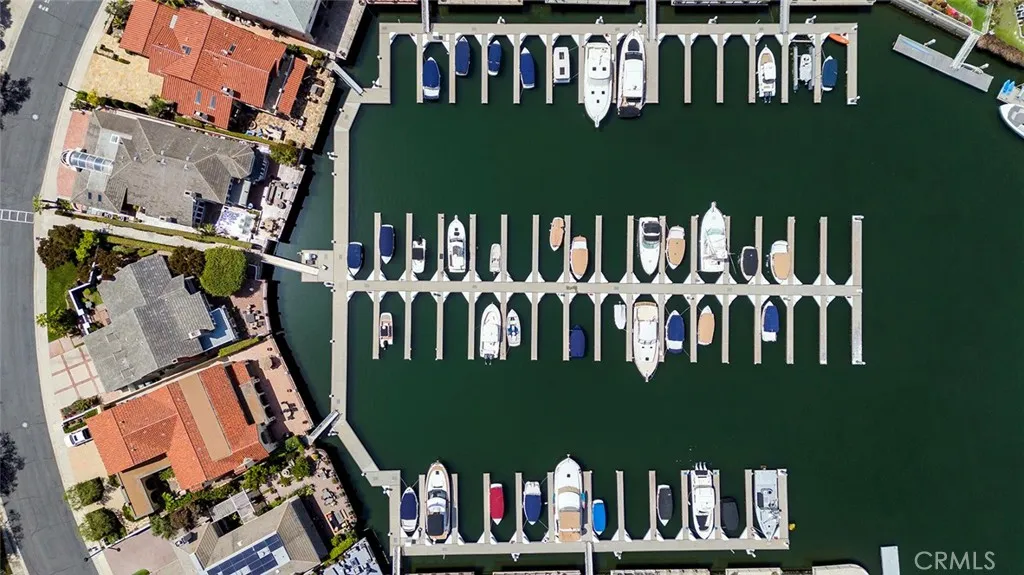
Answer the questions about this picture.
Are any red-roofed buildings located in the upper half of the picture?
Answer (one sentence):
Yes, looking in the upper half of the picture, one can make out a red-roofed building.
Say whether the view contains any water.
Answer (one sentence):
Yes, water can be seen from above here.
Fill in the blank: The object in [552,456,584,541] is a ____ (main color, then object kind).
white boat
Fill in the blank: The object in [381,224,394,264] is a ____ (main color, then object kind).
blue boat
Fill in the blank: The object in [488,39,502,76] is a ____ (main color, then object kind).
blue boat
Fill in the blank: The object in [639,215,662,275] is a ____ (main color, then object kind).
white boat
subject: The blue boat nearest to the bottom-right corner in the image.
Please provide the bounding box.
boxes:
[761,302,779,340]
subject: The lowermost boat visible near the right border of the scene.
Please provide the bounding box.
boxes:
[999,101,1024,137]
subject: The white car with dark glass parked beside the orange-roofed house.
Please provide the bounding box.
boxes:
[62,429,93,448]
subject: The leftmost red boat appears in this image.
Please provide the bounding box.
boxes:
[489,483,504,531]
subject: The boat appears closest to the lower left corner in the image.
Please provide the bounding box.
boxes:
[401,481,419,532]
